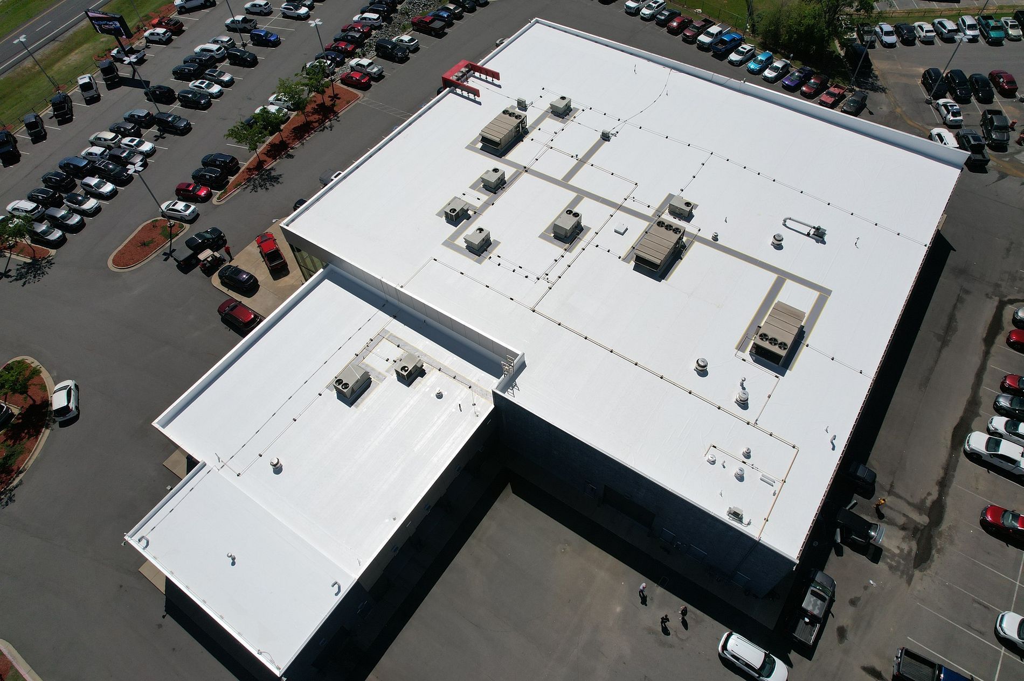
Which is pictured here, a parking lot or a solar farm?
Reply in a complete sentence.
The picture captures a parking lot.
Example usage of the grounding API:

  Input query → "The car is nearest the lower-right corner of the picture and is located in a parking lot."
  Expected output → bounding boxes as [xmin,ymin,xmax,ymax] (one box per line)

[990,617,1024,657]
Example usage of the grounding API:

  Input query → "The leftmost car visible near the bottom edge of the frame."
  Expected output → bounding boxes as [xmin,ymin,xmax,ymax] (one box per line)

[712,627,795,681]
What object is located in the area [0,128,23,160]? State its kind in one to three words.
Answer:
truck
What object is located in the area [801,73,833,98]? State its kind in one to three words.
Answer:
car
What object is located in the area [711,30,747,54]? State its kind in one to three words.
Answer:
truck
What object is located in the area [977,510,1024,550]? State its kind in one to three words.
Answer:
car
